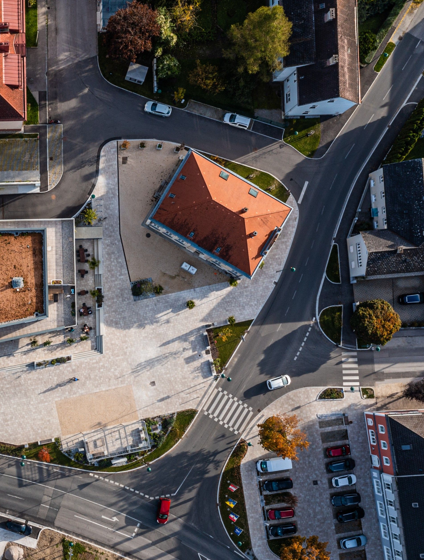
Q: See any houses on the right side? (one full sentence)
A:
Yes, a house appears on the right side.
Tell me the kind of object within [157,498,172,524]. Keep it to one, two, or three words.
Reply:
car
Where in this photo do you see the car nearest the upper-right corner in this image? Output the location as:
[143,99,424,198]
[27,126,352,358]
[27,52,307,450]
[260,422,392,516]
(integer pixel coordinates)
[222,111,252,131]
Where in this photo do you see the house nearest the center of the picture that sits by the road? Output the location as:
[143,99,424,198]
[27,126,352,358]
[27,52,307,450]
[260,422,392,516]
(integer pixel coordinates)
[142,149,294,281]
